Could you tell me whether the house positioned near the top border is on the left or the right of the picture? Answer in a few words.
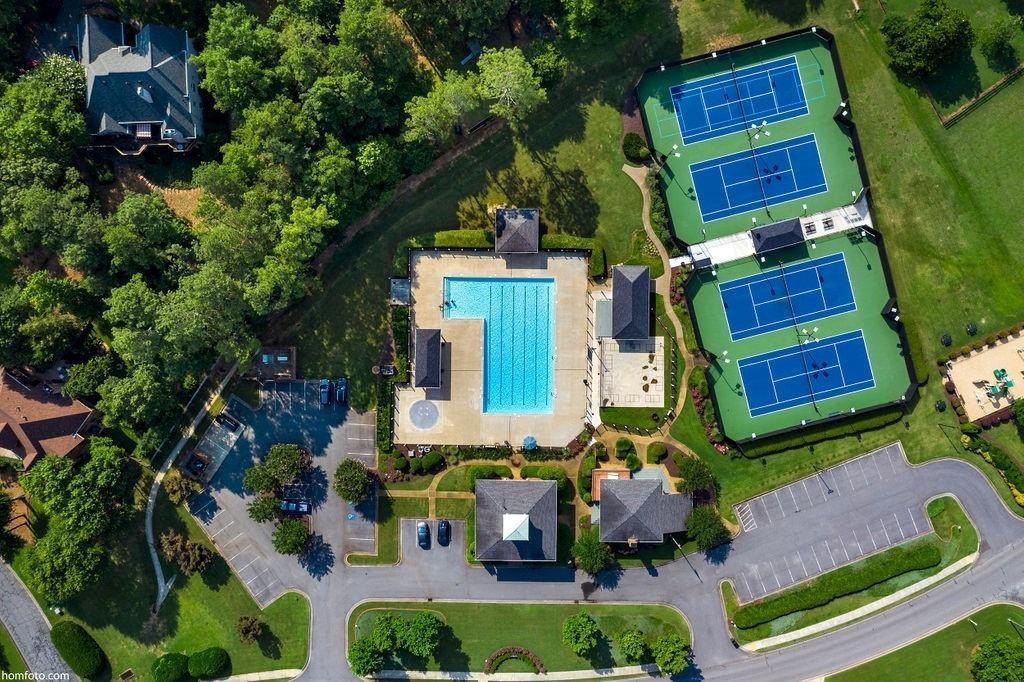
left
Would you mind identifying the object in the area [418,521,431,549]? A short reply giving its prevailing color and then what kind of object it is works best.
blue vehicle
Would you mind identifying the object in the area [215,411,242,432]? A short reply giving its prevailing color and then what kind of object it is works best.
black car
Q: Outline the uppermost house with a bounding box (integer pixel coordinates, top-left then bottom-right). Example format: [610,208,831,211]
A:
[77,13,204,158]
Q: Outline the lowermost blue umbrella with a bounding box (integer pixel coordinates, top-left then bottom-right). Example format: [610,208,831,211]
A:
[522,435,537,450]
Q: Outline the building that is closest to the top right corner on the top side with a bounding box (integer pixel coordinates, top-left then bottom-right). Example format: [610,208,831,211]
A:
[749,217,806,254]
